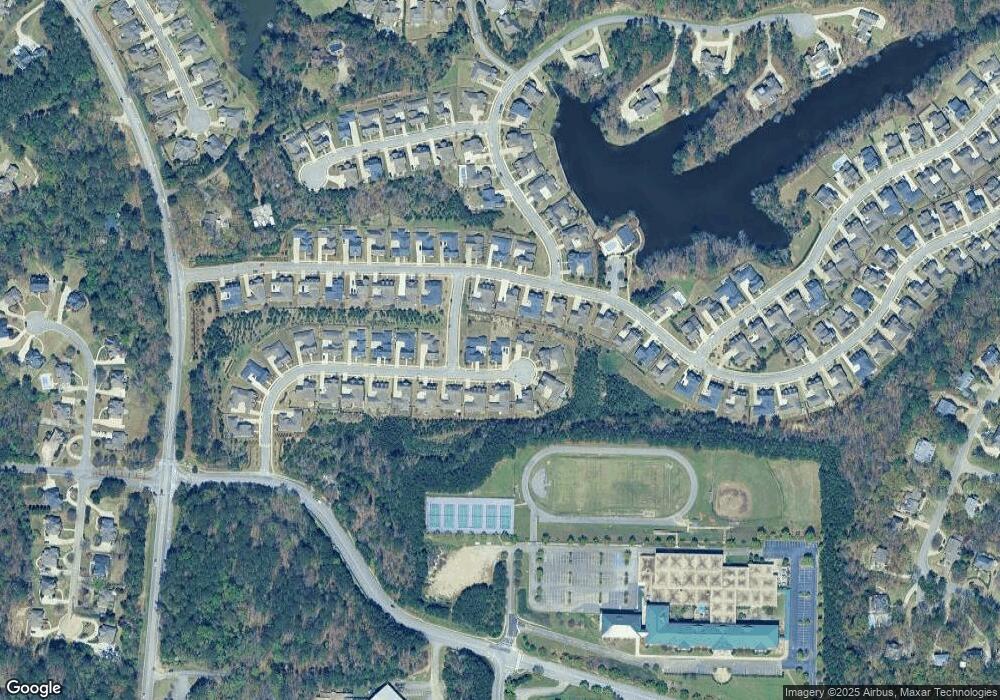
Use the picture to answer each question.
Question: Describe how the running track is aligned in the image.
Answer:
from left to right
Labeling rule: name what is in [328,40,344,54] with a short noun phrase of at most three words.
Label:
swimming pool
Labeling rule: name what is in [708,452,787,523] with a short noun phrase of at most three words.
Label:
baseball field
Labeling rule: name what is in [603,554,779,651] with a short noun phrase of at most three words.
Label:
building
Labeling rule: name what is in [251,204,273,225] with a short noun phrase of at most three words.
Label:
house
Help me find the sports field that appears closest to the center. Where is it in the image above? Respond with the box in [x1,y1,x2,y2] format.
[530,453,689,517]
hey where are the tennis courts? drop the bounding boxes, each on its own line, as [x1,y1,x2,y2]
[499,504,511,528]
[485,504,497,528]
[472,504,483,528]
[430,504,440,528]
[443,504,455,528]
[457,504,470,528]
